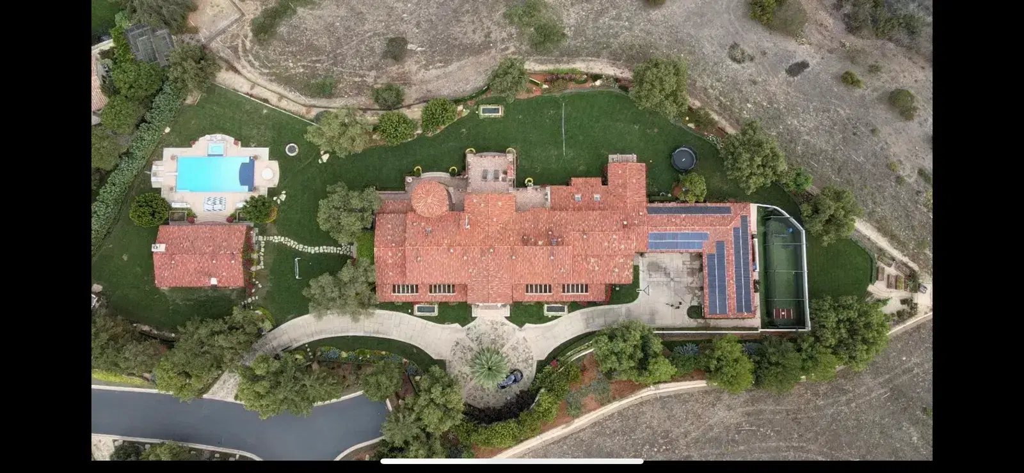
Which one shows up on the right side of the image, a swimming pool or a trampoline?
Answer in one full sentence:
The feature located on the right side of the image is a trampoline.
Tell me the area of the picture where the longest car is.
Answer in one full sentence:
Look in the bottom portion of the view to spot the longest car.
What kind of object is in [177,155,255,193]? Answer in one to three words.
swimming pool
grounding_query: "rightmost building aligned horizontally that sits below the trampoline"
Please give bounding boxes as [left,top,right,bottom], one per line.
[374,162,757,319]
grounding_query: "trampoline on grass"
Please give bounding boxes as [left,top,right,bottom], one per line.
[669,144,700,173]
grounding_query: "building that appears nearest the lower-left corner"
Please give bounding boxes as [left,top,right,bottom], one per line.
[152,224,249,288]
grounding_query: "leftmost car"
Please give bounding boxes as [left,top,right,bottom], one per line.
[497,368,524,391]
